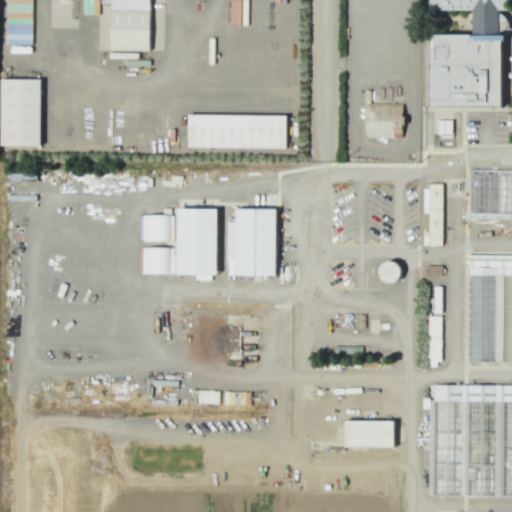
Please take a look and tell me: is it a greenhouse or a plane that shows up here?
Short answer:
greenhouse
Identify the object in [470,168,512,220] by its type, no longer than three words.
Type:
greenhouse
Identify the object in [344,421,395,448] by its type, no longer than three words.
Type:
building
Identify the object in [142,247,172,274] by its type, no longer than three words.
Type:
building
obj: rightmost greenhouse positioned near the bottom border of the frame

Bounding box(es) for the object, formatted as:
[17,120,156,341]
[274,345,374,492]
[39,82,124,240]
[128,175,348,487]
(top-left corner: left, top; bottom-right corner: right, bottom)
[430,386,512,496]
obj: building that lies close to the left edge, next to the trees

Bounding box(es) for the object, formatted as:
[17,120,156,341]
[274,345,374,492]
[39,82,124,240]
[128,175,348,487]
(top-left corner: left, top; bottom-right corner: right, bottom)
[0,79,41,147]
